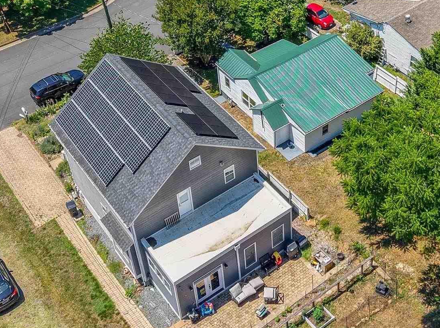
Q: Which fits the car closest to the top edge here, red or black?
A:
red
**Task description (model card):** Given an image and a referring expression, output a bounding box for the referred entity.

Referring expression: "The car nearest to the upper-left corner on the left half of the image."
[26,67,90,105]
